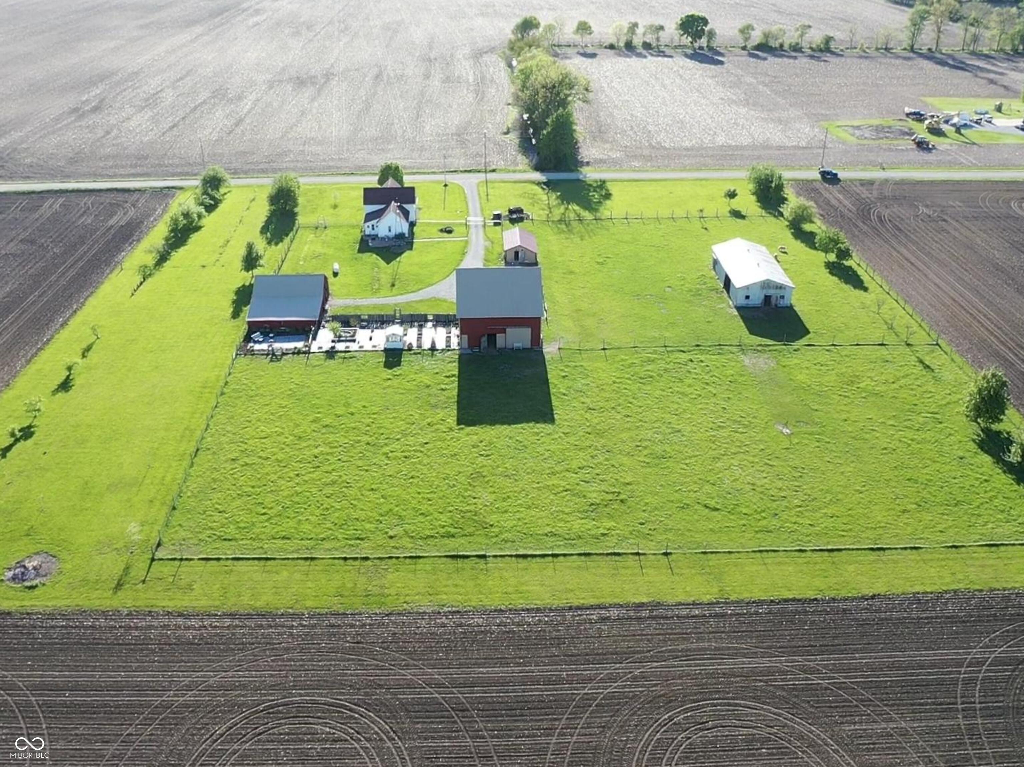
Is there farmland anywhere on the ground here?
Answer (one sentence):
Yes, the picture does contain farmland.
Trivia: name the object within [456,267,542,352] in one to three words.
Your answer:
barn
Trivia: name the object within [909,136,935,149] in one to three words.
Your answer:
vehicle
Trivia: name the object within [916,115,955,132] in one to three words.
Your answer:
work vehicle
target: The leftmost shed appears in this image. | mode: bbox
[245,273,330,329]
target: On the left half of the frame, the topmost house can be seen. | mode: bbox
[361,176,419,237]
